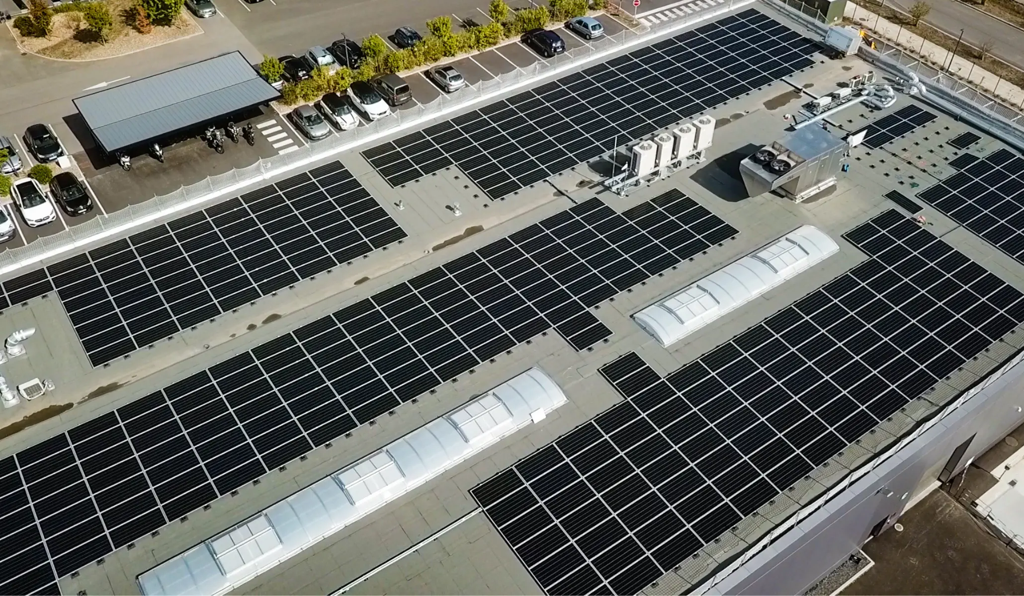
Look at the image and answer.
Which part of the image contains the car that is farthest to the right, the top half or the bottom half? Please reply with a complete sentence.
The top half of the photo is where the car that is farthest to the right is.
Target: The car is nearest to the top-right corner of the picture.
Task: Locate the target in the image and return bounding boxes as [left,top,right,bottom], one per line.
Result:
[565,13,605,39]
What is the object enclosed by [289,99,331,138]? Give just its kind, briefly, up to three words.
car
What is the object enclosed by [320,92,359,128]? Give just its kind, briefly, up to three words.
car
